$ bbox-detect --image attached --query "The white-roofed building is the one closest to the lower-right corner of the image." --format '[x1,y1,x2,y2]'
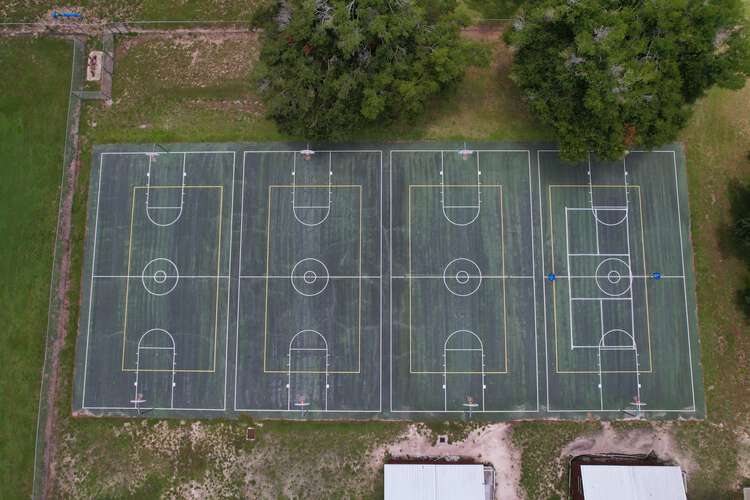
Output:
[567,453,683,500]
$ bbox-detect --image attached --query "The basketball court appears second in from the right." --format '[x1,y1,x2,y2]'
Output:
[387,149,543,414]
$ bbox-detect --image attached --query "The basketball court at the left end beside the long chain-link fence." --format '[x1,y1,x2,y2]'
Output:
[77,150,240,411]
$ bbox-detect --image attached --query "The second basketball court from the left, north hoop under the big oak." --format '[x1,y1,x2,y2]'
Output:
[231,149,385,412]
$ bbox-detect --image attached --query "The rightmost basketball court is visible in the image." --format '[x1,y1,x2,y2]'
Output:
[532,149,700,414]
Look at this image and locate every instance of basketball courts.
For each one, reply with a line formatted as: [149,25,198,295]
[77,150,240,411]
[387,149,543,414]
[532,149,700,414]
[231,149,385,412]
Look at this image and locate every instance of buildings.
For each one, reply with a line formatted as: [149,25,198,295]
[567,453,683,500]
[385,456,494,500]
